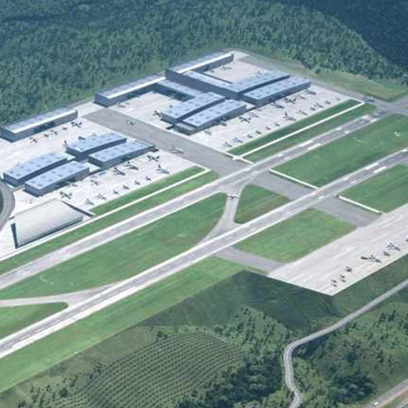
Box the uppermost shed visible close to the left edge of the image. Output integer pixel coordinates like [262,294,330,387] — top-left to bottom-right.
[1,105,75,140]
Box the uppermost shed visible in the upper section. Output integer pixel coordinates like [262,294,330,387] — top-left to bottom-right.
[167,50,233,80]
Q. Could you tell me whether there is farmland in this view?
No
